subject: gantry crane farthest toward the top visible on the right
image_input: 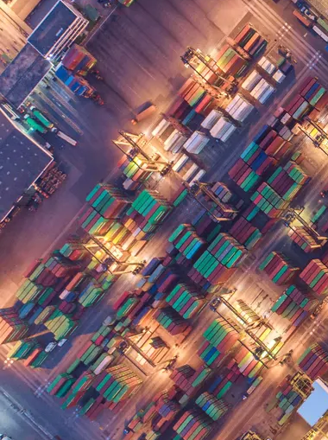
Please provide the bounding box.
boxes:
[187,51,244,97]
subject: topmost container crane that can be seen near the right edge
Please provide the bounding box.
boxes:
[296,119,328,157]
